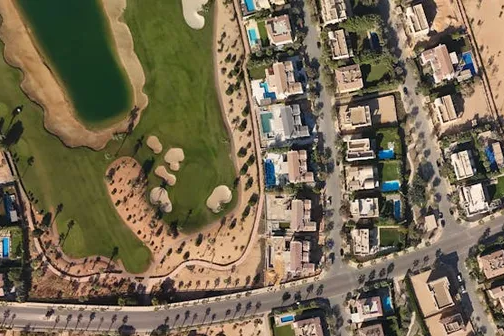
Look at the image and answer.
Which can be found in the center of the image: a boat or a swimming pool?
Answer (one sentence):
The one visible in the center of the image is a swimming pool.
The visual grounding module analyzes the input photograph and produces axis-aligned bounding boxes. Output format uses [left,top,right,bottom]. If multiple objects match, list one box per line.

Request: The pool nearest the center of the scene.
[264,155,286,189]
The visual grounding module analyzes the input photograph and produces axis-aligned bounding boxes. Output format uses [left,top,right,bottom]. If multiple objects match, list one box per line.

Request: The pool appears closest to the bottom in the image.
[274,310,295,325]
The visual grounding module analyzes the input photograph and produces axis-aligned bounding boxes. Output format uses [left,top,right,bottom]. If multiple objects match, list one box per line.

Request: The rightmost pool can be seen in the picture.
[483,144,497,169]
